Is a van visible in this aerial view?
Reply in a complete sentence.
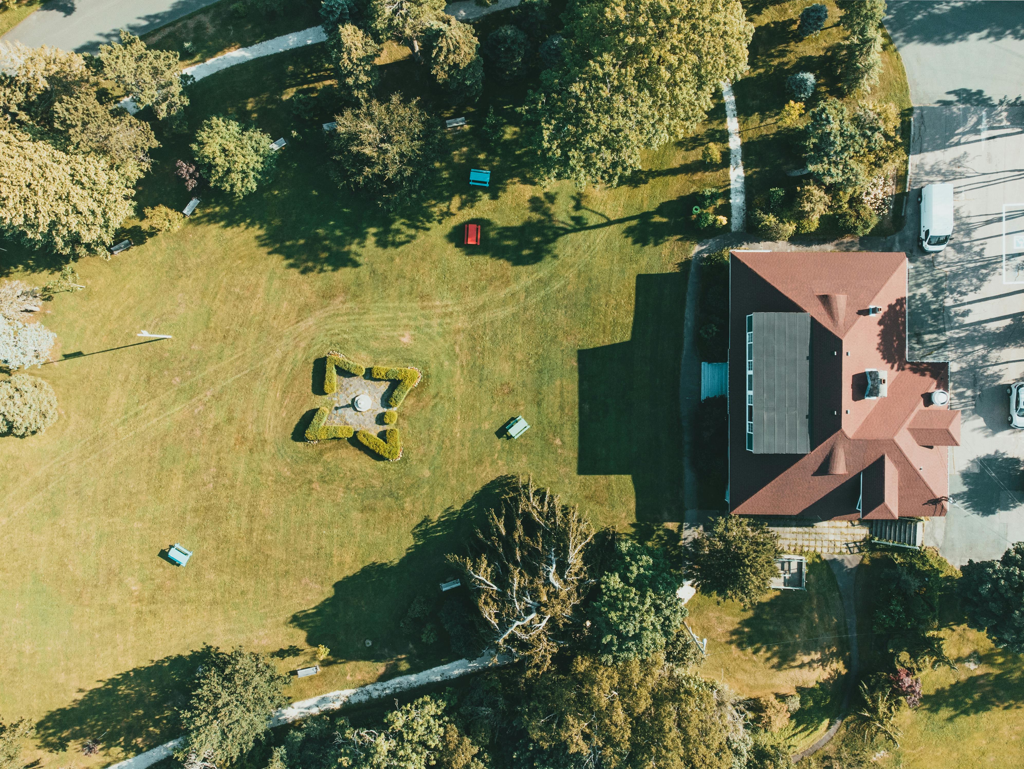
Yes, there's a van here.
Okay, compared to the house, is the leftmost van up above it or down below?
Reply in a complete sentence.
The leftmost van is located above the house in this view.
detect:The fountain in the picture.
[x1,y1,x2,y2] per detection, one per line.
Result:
[354,394,372,411]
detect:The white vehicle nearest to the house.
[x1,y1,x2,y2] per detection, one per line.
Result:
[917,180,956,256]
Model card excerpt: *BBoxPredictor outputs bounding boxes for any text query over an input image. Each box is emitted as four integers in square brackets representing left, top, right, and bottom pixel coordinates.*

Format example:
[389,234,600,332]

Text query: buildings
[721,251,961,518]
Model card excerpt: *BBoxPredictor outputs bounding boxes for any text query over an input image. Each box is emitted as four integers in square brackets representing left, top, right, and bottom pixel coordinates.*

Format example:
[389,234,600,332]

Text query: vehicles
[917,180,956,256]
[1006,383,1024,428]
